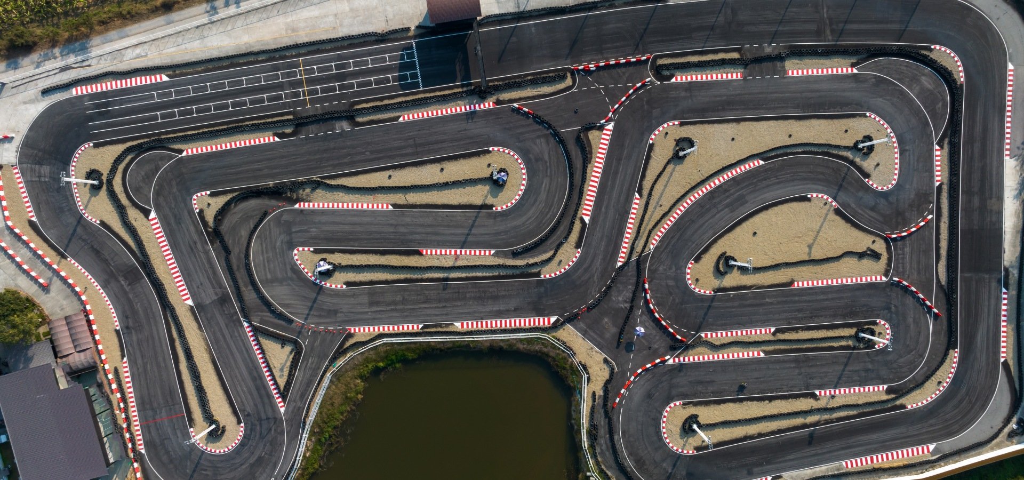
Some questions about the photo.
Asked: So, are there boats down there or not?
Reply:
No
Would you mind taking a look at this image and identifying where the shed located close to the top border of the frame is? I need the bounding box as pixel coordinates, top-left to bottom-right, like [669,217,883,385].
[429,0,482,30]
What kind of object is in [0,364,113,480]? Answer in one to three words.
building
